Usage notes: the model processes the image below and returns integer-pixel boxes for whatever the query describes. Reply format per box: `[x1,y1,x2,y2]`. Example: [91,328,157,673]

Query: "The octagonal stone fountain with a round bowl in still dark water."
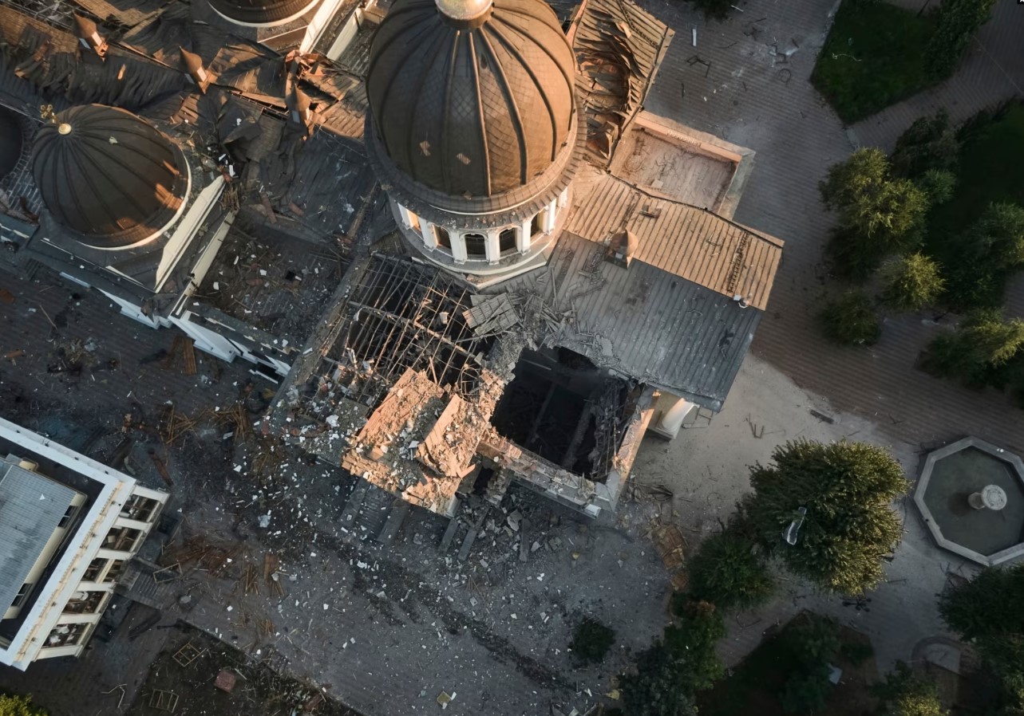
[912,436,1024,569]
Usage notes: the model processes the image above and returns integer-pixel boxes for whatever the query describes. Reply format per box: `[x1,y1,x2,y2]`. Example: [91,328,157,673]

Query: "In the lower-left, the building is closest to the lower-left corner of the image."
[0,422,190,666]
